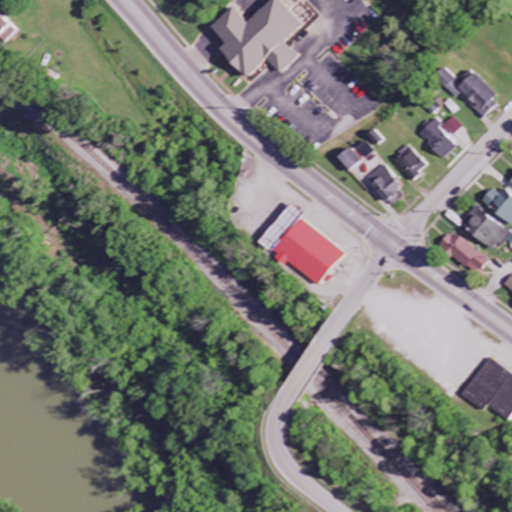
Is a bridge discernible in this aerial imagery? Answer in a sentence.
Yes, looking at the shot, I can spot a bridge.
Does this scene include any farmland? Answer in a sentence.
No, the picture contains no farmland.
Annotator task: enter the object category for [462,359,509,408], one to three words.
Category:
building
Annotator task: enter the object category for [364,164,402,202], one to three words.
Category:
house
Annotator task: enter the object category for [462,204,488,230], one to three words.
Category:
house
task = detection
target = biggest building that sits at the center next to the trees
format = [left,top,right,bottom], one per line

[272,218,343,284]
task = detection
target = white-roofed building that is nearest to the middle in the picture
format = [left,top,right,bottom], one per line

[260,206,304,249]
